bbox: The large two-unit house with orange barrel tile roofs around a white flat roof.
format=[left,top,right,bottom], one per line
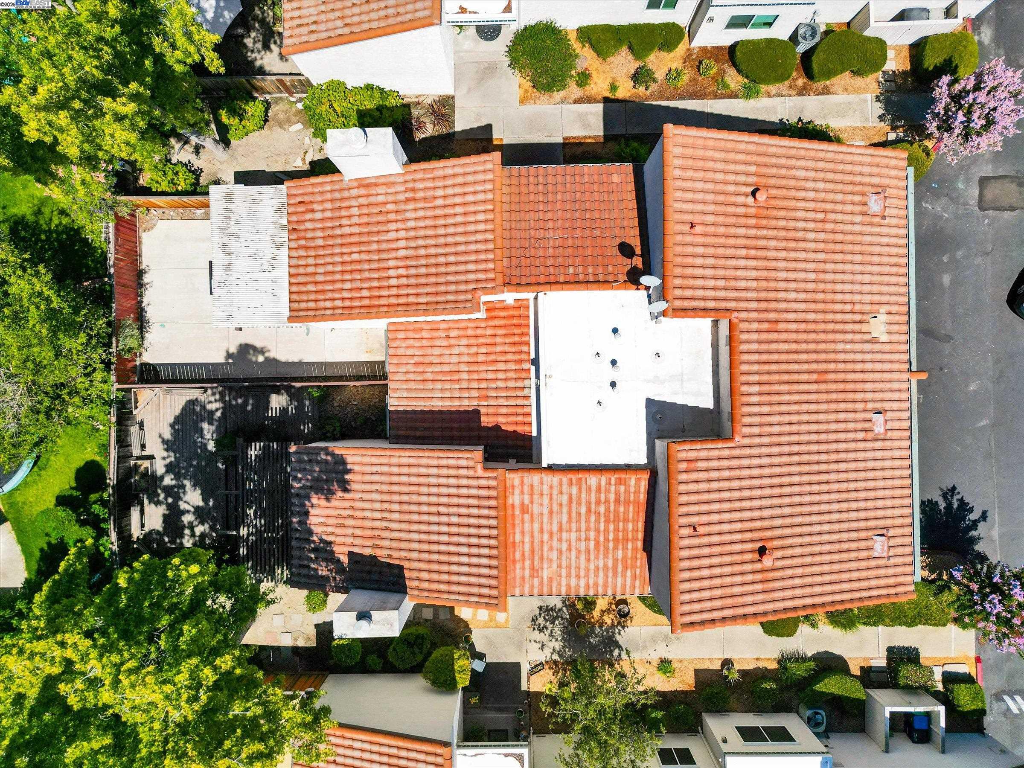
[280,119,940,638]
